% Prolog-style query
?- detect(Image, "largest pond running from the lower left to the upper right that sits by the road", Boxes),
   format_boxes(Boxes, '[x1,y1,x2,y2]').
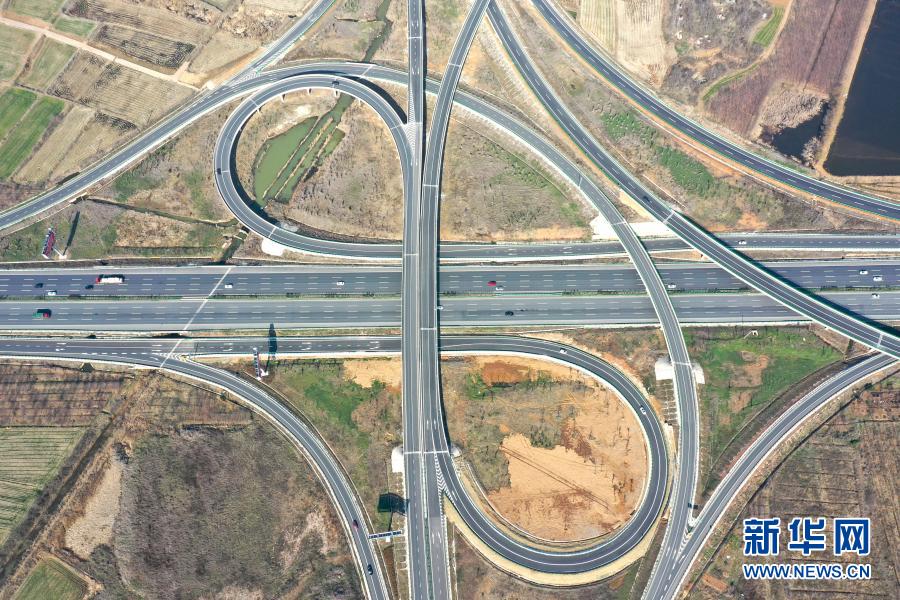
[250,91,356,206]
